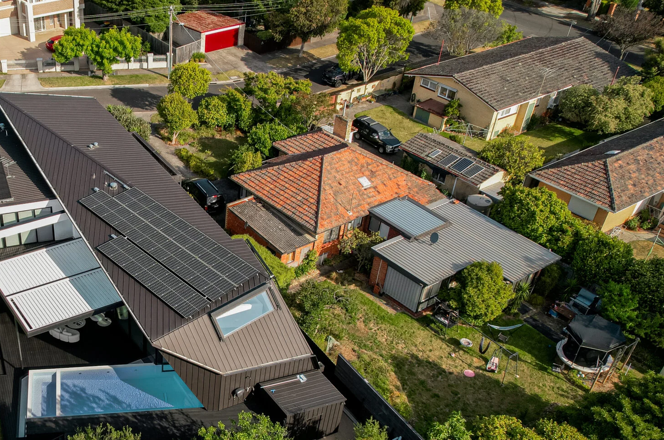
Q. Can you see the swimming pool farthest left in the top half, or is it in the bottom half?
bottom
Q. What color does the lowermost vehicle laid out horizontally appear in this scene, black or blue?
black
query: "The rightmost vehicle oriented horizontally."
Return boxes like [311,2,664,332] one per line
[320,62,367,86]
